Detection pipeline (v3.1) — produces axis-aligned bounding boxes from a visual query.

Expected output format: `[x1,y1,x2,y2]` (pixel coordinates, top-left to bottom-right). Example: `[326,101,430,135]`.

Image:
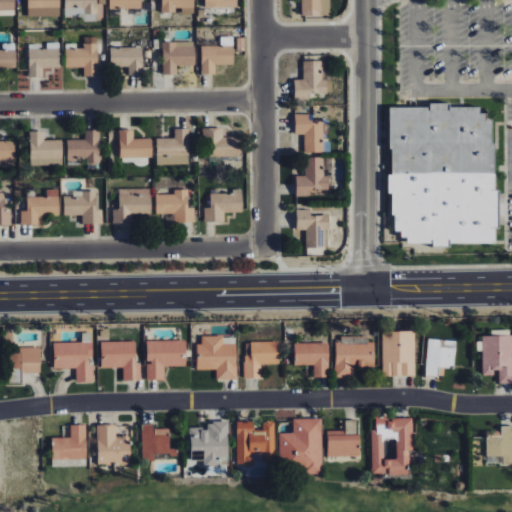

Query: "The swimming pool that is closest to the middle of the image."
[194,324,236,344]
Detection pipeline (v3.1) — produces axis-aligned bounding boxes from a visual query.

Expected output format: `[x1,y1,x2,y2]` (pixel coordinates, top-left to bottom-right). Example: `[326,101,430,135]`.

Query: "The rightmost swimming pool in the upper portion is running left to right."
[164,28,194,42]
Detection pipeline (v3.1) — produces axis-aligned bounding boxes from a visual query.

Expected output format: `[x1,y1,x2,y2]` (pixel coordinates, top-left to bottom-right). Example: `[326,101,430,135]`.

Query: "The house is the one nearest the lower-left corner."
[52,425,87,468]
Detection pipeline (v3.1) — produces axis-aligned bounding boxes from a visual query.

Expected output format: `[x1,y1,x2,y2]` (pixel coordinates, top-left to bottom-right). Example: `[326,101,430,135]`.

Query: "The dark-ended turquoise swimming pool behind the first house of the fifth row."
[13,330,42,347]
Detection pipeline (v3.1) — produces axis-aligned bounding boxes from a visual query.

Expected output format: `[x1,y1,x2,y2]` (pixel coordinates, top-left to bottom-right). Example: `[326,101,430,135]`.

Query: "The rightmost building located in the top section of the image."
[388,102,500,247]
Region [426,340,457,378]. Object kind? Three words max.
house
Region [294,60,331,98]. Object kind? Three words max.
house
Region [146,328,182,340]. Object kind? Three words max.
swimming pool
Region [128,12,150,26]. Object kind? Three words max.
swimming pool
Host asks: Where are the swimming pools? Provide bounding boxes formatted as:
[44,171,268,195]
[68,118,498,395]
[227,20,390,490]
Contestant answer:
[60,178,86,195]
[128,12,150,26]
[194,324,236,344]
[146,328,182,340]
[150,459,180,476]
[13,330,42,347]
[164,28,194,42]
[278,422,293,433]
[385,441,396,460]
[0,32,14,43]
[52,328,93,343]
